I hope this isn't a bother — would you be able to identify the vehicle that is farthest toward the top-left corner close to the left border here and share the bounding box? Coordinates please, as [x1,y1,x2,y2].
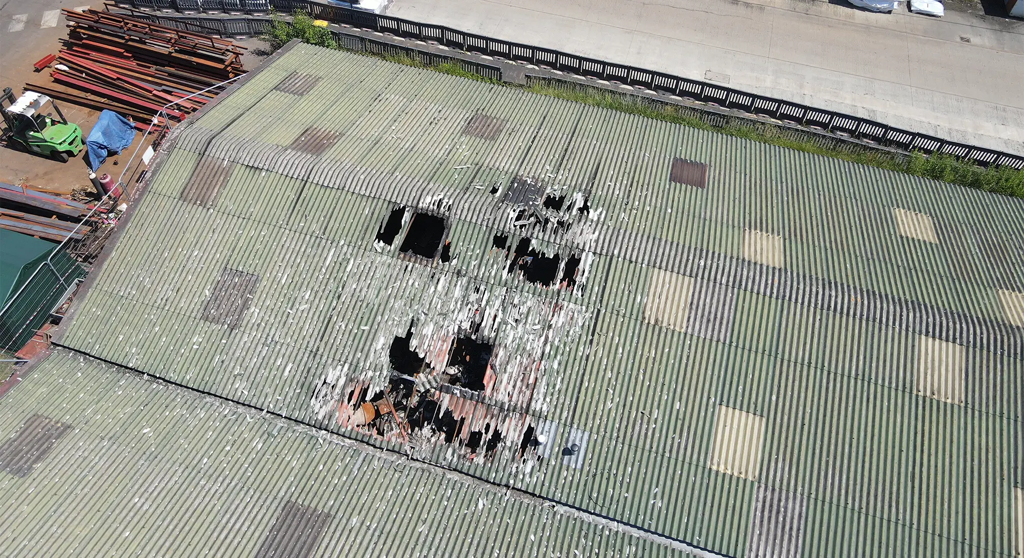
[0,89,93,164]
